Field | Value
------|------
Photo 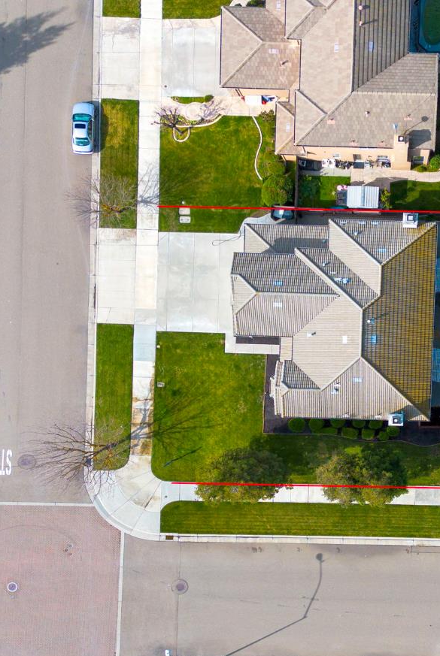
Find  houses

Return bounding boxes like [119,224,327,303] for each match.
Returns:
[219,0,440,175]
[230,203,438,426]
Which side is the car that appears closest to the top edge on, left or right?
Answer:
left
